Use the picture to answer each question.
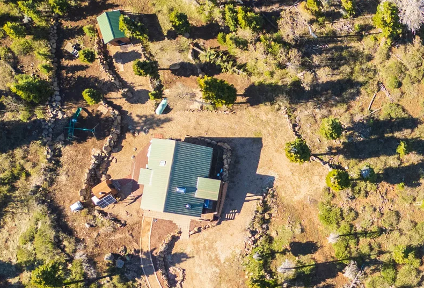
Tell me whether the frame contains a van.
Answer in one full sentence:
No, I find no van anywhere in the image.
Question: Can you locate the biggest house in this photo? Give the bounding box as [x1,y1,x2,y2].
[136,138,230,226]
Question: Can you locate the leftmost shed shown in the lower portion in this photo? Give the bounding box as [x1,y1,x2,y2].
[92,177,129,199]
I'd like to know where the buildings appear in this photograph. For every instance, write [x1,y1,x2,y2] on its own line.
[92,177,129,199]
[136,138,230,226]
[97,11,133,46]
